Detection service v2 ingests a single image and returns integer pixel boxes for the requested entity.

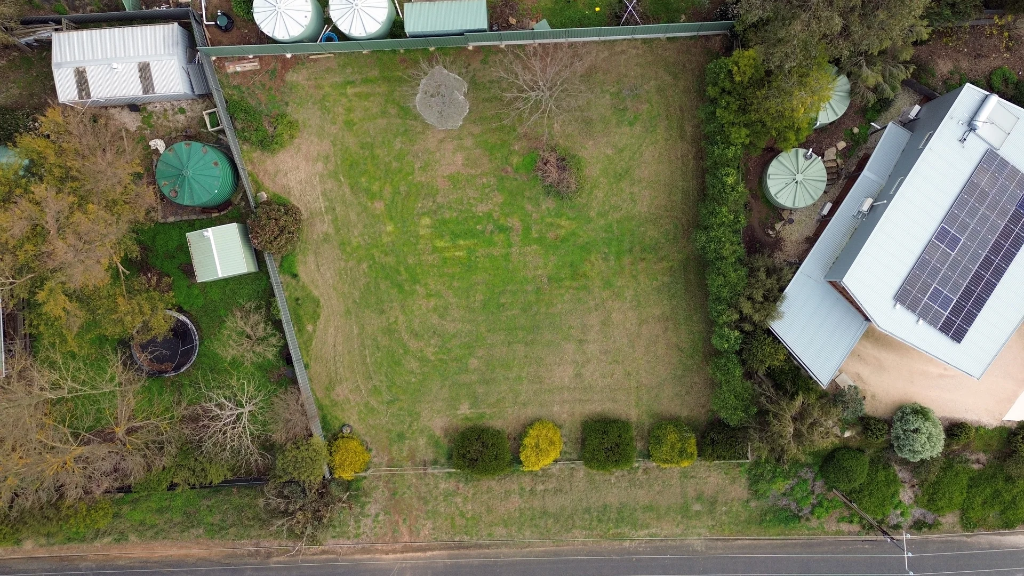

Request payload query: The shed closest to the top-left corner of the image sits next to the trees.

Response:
[50,21,198,110]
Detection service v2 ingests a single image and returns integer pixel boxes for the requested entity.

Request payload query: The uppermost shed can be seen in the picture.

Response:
[403,0,488,38]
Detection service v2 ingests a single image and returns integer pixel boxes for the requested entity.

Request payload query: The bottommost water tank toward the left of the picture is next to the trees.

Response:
[155,141,234,208]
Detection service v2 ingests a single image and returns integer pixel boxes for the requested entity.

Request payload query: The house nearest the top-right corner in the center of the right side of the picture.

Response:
[759,82,1024,388]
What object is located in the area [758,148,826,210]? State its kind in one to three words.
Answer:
water tank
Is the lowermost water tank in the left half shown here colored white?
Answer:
No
